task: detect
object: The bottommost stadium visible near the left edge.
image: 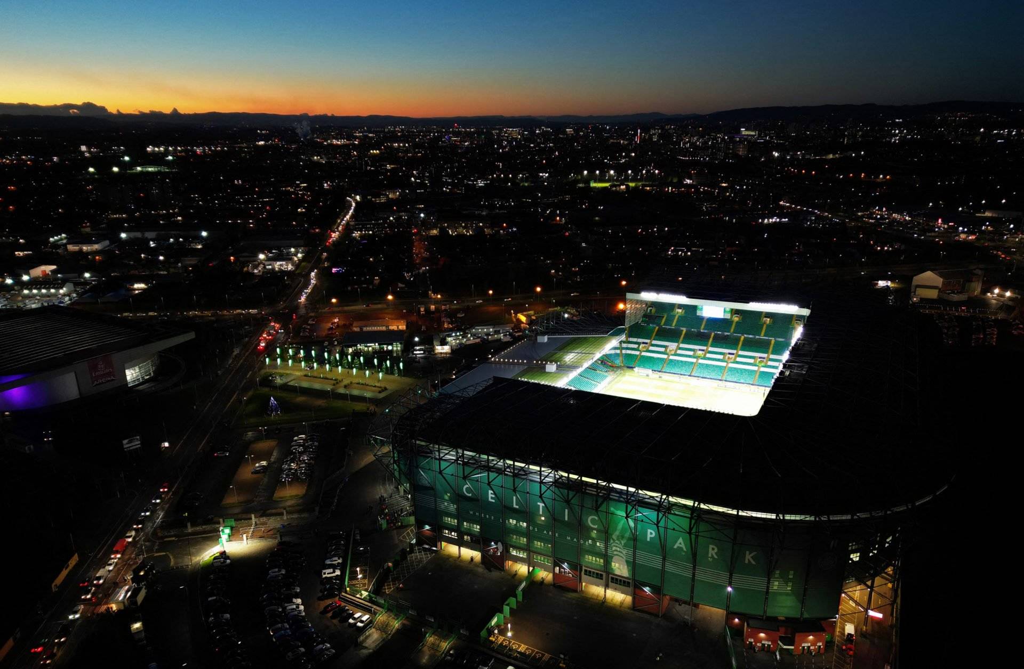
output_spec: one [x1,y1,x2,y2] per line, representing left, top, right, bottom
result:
[0,305,195,411]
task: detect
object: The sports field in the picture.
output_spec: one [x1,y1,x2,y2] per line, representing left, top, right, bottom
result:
[600,371,770,417]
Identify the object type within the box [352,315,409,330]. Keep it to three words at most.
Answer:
building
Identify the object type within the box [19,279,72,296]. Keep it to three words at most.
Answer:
building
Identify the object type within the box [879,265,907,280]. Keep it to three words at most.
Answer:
house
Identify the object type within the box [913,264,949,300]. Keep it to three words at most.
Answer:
house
